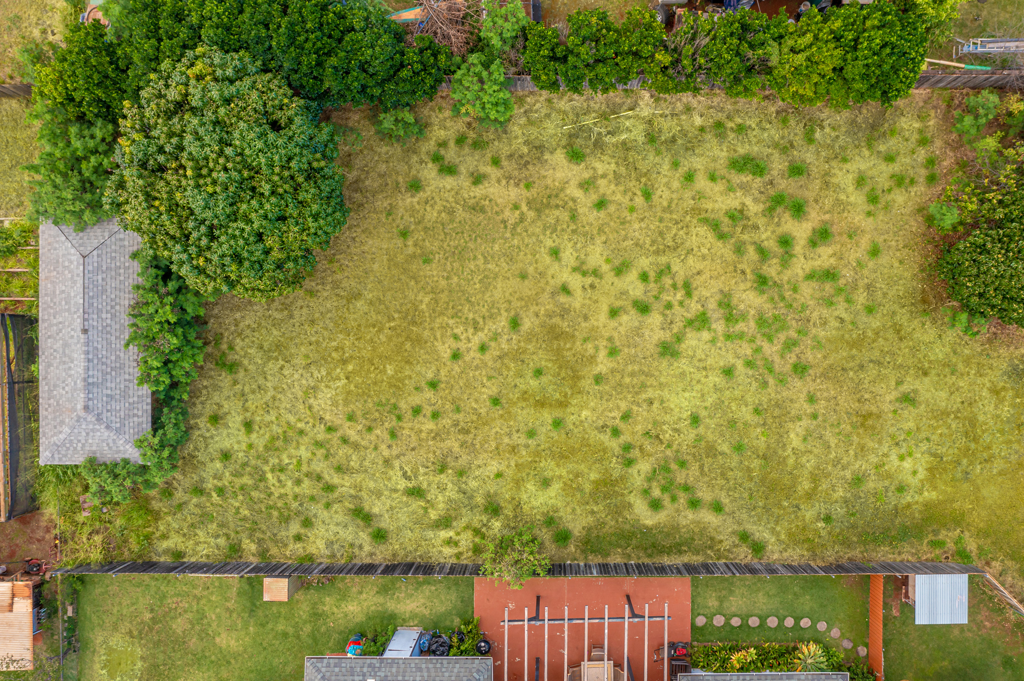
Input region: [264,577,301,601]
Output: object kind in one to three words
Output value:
shed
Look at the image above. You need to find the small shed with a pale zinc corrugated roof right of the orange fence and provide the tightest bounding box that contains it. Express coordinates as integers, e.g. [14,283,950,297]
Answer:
[899,569,968,625]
